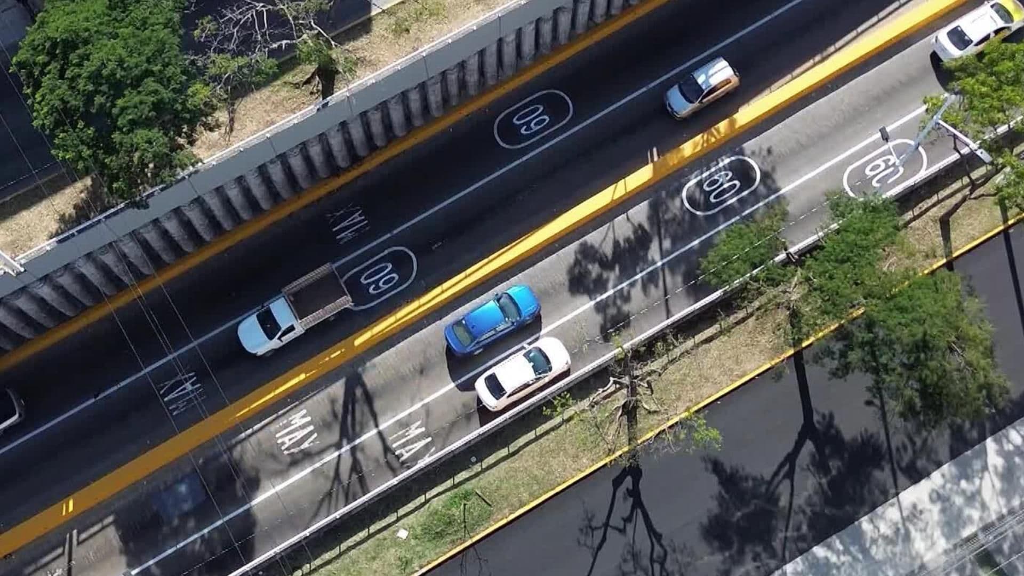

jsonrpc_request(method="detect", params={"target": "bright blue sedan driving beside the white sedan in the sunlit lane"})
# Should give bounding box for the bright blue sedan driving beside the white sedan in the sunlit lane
[445,284,544,360]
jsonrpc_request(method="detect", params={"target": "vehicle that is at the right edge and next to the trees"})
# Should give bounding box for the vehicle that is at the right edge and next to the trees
[926,0,1019,64]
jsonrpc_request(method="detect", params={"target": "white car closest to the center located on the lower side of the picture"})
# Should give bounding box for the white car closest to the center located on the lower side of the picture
[475,335,575,412]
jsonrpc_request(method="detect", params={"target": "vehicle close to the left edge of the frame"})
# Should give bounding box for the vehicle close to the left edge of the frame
[0,385,34,435]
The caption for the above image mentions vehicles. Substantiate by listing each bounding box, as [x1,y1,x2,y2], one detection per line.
[0,385,34,435]
[475,335,575,412]
[445,284,544,360]
[235,264,353,357]
[926,0,1019,64]
[661,54,744,120]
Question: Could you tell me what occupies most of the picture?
paved ground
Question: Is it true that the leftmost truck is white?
No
